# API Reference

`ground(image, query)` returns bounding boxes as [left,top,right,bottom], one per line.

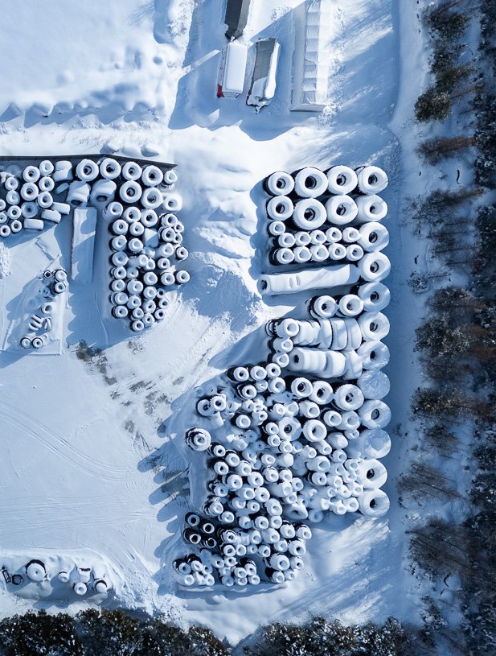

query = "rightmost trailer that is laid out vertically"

[291,0,331,110]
